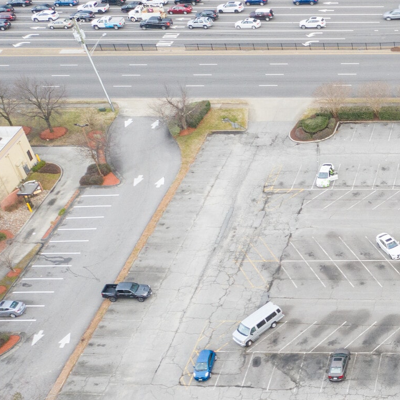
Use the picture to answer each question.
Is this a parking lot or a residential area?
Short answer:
parking lot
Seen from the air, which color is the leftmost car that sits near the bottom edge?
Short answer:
blue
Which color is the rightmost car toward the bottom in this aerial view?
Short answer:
white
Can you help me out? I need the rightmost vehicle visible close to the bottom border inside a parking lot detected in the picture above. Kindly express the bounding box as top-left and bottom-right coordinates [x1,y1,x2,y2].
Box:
[326,347,351,383]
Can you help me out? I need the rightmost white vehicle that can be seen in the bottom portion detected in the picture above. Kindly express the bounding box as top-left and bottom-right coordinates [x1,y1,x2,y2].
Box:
[375,231,400,258]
